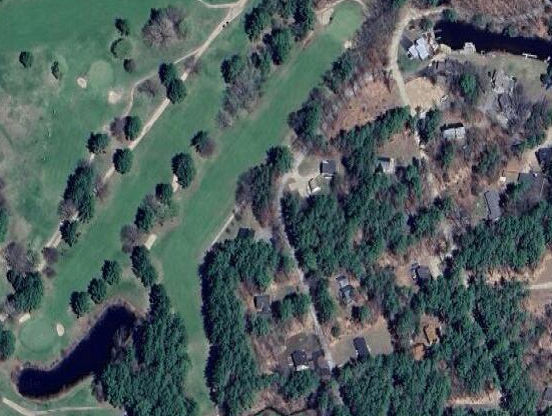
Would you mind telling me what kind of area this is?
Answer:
golf course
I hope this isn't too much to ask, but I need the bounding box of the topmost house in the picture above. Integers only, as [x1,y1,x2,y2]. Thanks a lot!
[403,39,435,61]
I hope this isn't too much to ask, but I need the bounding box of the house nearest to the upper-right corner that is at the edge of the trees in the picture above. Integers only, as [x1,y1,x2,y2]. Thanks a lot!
[493,70,514,95]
